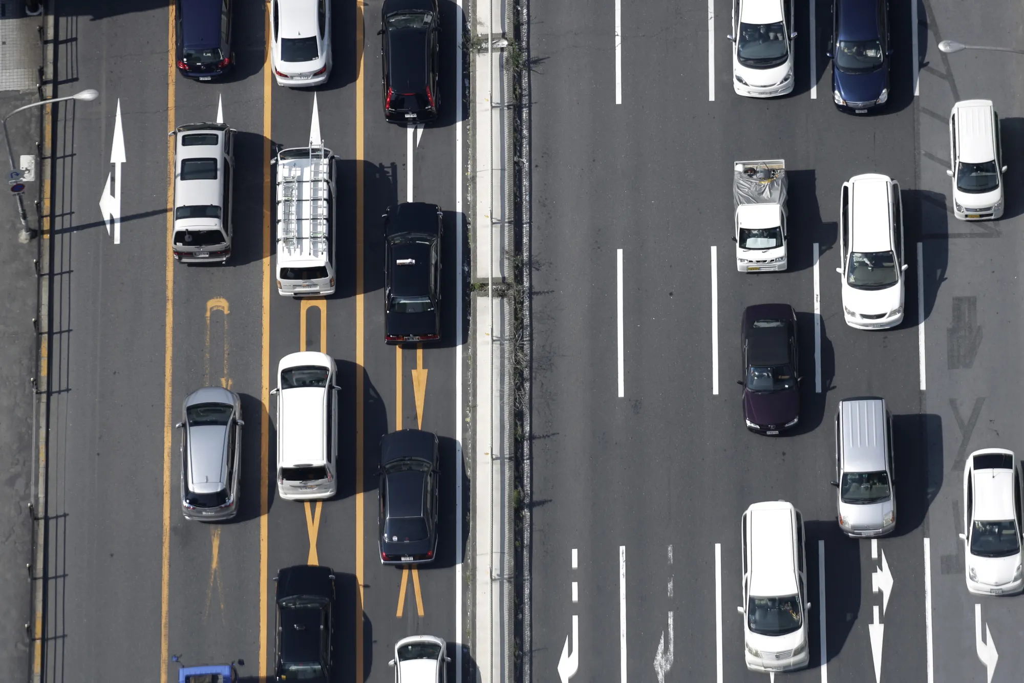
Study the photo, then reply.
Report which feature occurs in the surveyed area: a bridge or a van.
van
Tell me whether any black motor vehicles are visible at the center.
Yes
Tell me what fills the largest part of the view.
paved ground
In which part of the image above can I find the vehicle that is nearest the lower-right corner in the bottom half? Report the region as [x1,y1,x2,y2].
[958,449,1024,594]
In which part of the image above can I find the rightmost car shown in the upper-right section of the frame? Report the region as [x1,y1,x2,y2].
[946,101,1008,220]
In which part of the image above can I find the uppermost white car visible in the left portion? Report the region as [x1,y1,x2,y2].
[270,0,332,87]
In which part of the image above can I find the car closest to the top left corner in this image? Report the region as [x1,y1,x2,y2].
[175,0,235,81]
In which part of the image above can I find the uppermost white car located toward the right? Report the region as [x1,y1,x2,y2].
[727,0,799,97]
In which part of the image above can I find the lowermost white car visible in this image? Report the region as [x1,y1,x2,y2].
[387,637,453,683]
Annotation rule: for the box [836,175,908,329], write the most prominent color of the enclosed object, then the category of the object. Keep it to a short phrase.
white car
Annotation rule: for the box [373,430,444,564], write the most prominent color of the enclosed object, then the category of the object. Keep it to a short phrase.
black car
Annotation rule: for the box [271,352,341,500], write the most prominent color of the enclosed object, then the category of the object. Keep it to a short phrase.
white car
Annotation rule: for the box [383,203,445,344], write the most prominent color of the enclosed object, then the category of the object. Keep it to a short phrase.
black car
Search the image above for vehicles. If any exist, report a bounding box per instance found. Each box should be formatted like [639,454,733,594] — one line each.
[274,565,337,683]
[270,0,332,87]
[958,449,1024,594]
[173,656,244,683]
[272,146,340,296]
[387,637,453,683]
[170,120,238,263]
[375,0,444,124]
[736,305,805,436]
[175,0,235,81]
[727,0,799,97]
[731,203,790,272]
[383,203,445,344]
[373,430,444,564]
[836,175,908,329]
[946,101,1008,220]
[826,0,895,114]
[830,393,901,537]
[737,499,812,672]
[271,352,341,500]
[176,387,247,520]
